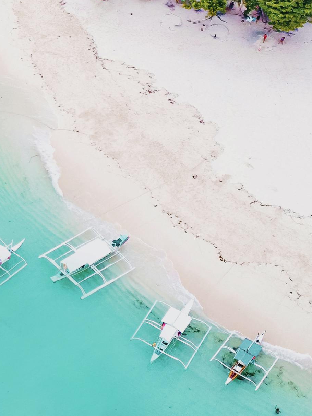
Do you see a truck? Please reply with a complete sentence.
No, no truck is visible in the scene.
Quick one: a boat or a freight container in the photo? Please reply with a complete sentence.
The one in the frame is a boat.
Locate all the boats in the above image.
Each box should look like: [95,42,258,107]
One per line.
[130,298,212,369]
[210,331,278,390]
[0,239,28,285]
[38,227,135,298]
